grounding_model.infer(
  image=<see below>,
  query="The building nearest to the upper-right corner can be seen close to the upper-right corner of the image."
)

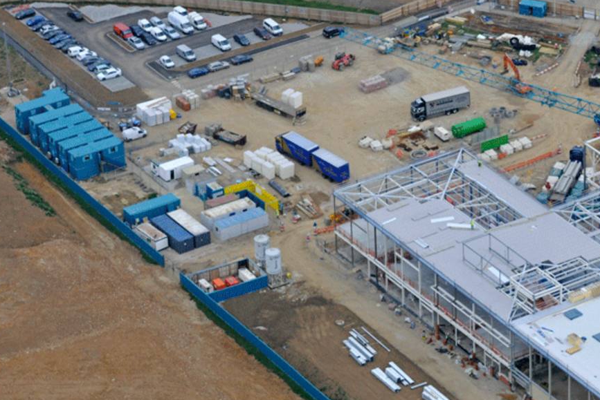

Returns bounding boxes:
[520,0,549,19]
